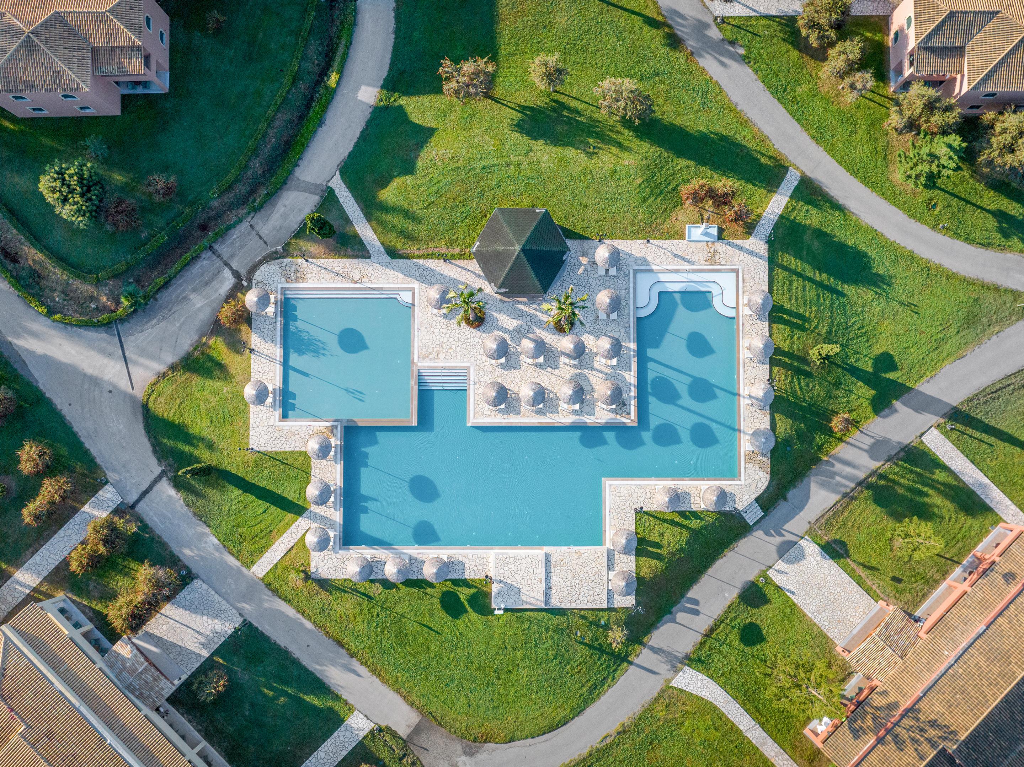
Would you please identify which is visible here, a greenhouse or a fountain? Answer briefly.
fountain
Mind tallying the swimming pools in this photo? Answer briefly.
2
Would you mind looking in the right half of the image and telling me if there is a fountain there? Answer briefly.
Yes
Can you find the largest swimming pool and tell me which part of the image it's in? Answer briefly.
center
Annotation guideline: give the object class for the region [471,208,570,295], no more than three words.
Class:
gazebo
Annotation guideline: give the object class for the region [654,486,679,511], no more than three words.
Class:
umbrella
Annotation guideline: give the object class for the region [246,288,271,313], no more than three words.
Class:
umbrella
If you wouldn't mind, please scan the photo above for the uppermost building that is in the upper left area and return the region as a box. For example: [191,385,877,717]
[0,0,171,114]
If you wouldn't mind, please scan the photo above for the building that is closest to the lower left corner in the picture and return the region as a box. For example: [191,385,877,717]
[0,595,227,767]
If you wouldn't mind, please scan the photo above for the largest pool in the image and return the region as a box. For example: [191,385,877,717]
[337,265,744,554]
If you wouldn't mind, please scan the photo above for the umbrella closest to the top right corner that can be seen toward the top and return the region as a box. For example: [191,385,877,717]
[746,289,771,314]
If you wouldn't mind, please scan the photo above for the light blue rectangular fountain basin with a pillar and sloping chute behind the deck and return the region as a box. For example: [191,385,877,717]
[686,211,719,240]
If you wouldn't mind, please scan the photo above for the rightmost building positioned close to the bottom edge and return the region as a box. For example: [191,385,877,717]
[803,509,1024,767]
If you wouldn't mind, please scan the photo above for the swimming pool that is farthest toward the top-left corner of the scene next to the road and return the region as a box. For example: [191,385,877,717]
[276,282,418,426]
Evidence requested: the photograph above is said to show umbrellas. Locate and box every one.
[594,243,619,268]
[385,556,410,581]
[348,556,373,581]
[519,380,544,405]
[244,381,269,406]
[482,381,508,406]
[747,382,772,407]
[596,335,621,360]
[483,334,508,359]
[424,556,448,581]
[654,486,679,511]
[595,289,620,314]
[611,569,636,594]
[427,285,451,310]
[746,289,771,314]
[596,380,621,405]
[307,480,332,504]
[521,334,545,359]
[558,380,583,405]
[611,528,636,553]
[747,334,772,358]
[701,485,726,510]
[307,434,332,459]
[559,334,584,359]
[306,526,331,551]
[246,288,271,313]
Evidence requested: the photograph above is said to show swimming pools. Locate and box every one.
[276,282,418,426]
[337,265,744,554]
